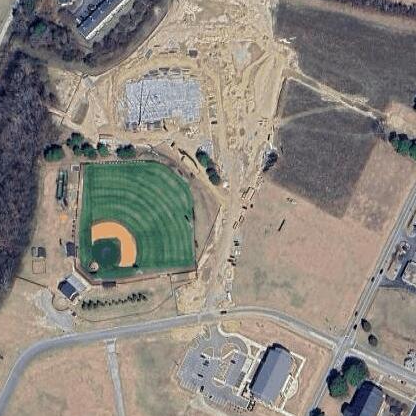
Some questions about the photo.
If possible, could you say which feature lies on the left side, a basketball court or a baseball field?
baseball field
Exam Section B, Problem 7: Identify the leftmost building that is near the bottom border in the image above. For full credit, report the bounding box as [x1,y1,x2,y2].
[251,347,292,402]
